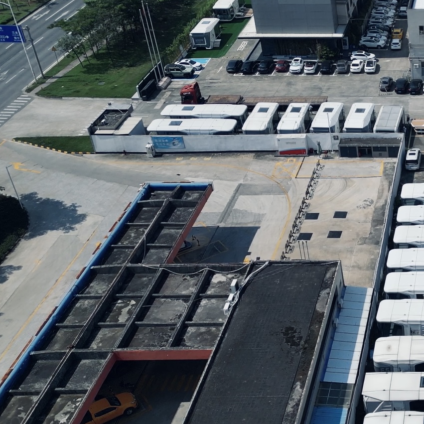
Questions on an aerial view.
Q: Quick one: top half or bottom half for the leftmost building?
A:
top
